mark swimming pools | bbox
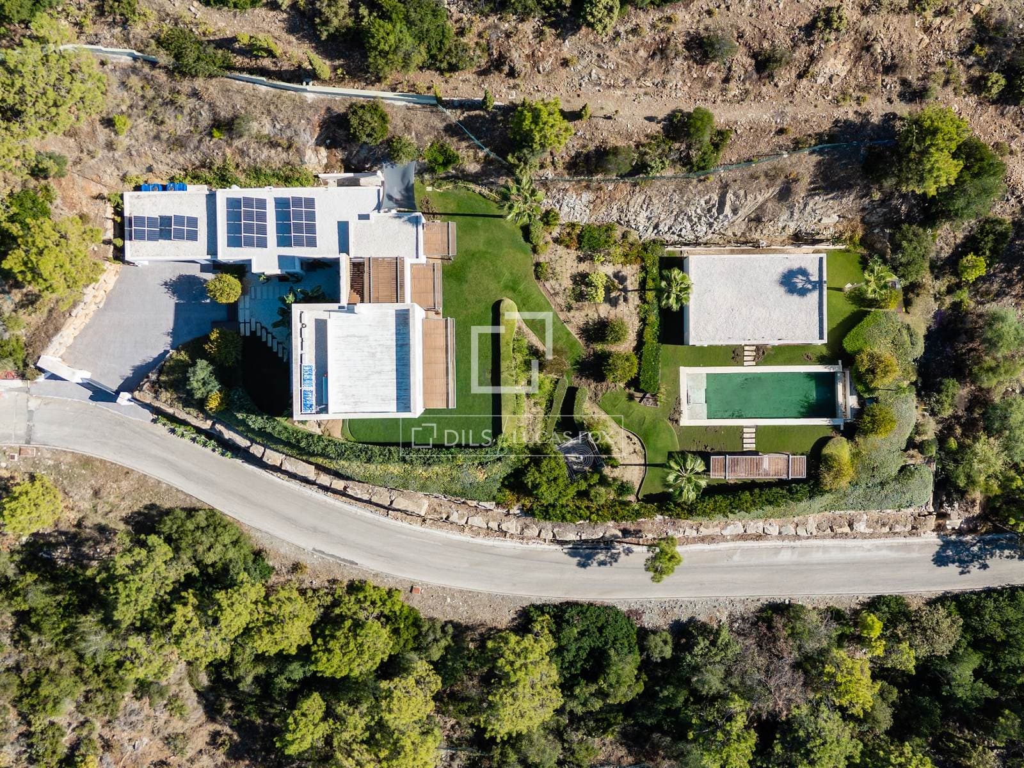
[680,360,859,430]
